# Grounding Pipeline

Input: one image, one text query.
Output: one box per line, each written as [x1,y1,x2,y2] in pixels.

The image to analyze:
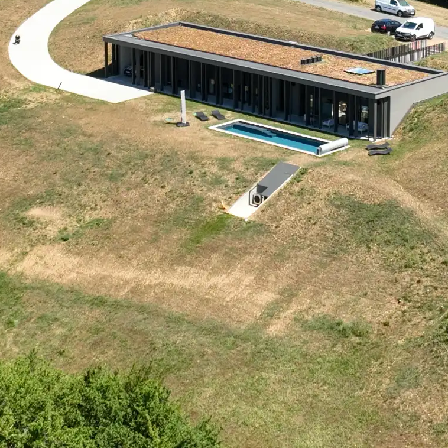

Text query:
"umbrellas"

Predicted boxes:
[174,92,191,129]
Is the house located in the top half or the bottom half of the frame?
top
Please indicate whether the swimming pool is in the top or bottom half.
top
